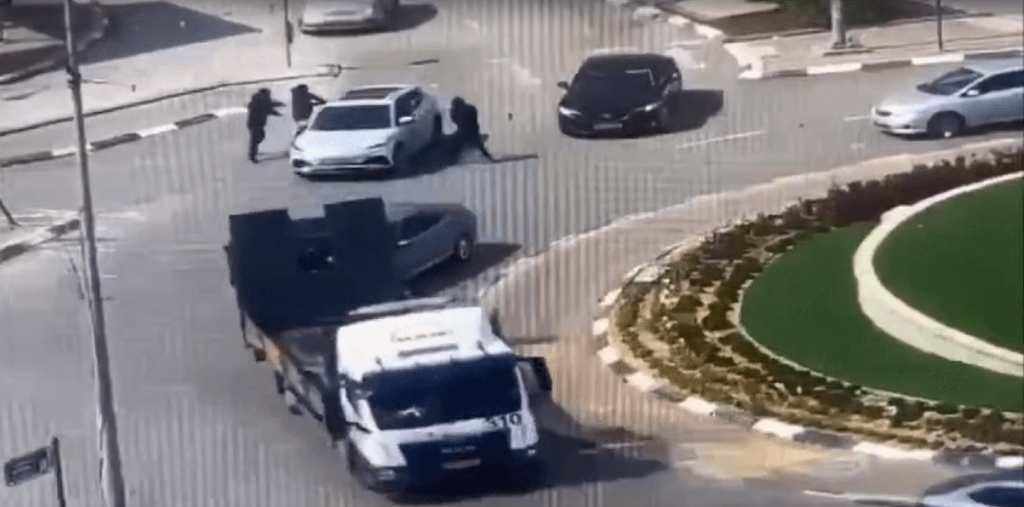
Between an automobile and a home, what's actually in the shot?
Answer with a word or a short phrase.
automobile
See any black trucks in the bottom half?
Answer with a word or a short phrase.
Yes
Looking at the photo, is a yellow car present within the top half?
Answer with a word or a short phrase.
No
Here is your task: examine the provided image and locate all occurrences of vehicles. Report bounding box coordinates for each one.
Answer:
[393,201,486,289]
[235,194,558,499]
[555,48,683,140]
[301,0,413,35]
[872,53,1024,145]
[290,74,451,178]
